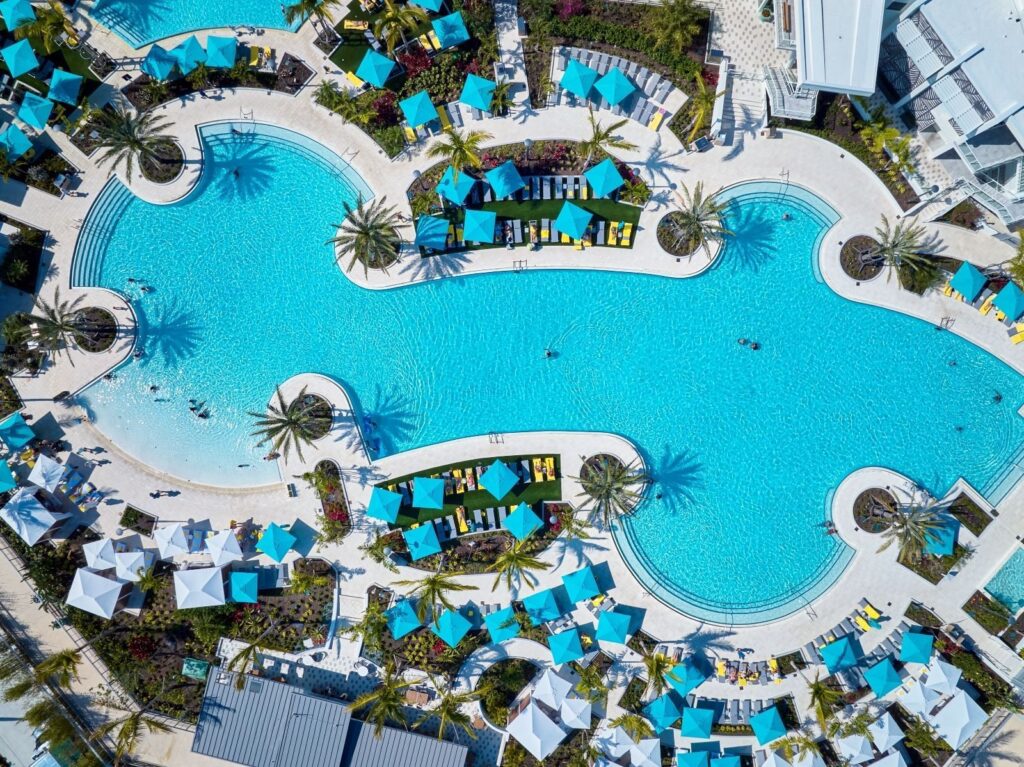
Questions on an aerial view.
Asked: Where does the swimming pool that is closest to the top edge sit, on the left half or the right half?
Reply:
left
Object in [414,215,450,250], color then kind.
blue umbrella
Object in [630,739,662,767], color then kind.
white umbrella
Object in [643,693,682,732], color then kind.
blue umbrella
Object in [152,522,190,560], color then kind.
white umbrella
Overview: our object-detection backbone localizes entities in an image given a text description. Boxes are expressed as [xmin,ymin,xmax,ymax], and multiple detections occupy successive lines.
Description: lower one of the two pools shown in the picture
[72,120,1024,625]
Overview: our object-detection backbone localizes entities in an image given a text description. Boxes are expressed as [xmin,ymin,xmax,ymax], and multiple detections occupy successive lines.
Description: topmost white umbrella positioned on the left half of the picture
[29,455,65,491]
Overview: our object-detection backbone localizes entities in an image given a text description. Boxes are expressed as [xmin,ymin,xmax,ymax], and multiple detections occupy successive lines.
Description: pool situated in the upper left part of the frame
[90,0,322,48]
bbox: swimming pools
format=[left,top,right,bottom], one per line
[90,0,322,48]
[72,120,1024,625]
